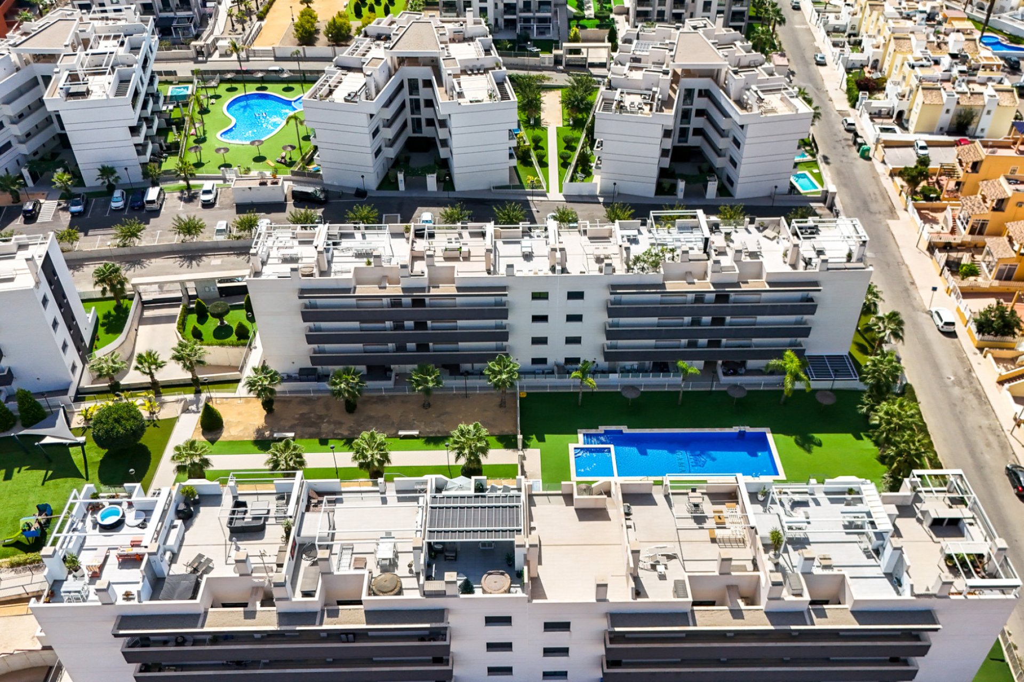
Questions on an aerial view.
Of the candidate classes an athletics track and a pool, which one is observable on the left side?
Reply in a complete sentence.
The one visible on the left side is a pool.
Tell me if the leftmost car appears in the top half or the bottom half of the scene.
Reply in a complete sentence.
You can find the leftmost car in the top half.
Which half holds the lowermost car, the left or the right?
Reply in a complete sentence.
It is on the right.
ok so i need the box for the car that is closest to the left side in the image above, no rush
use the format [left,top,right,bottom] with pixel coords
[16,199,43,219]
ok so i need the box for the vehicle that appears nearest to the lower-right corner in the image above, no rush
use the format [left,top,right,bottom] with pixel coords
[1001,465,1024,500]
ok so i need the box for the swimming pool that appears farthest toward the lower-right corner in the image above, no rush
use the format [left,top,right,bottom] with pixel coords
[569,424,787,481]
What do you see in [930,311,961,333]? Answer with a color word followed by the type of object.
white car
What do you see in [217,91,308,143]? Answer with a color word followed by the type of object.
blue swimming pool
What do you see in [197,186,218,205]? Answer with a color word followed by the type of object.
white vehicle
